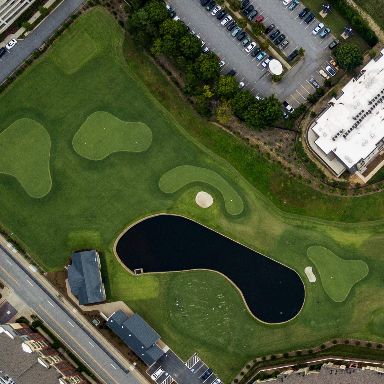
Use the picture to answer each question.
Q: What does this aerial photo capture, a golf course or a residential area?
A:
golf course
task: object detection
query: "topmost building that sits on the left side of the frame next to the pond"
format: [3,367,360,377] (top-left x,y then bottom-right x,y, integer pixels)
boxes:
[67,249,106,305]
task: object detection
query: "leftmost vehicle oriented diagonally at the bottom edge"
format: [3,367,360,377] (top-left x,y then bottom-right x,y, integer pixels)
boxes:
[150,367,165,382]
